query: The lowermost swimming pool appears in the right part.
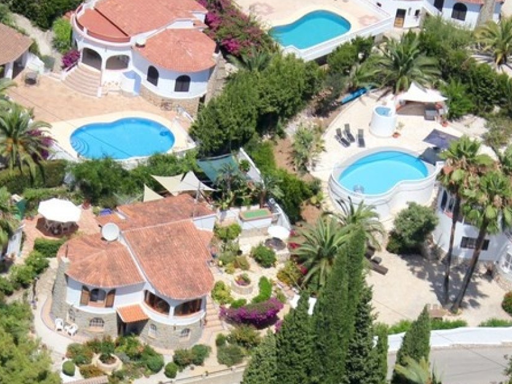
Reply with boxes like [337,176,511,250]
[327,147,442,235]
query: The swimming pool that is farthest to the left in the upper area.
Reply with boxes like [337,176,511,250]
[57,111,187,165]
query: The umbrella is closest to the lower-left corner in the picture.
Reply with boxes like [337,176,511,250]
[38,199,82,224]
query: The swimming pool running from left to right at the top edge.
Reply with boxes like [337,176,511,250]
[262,6,358,49]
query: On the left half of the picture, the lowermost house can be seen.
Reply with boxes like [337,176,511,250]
[52,193,217,344]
